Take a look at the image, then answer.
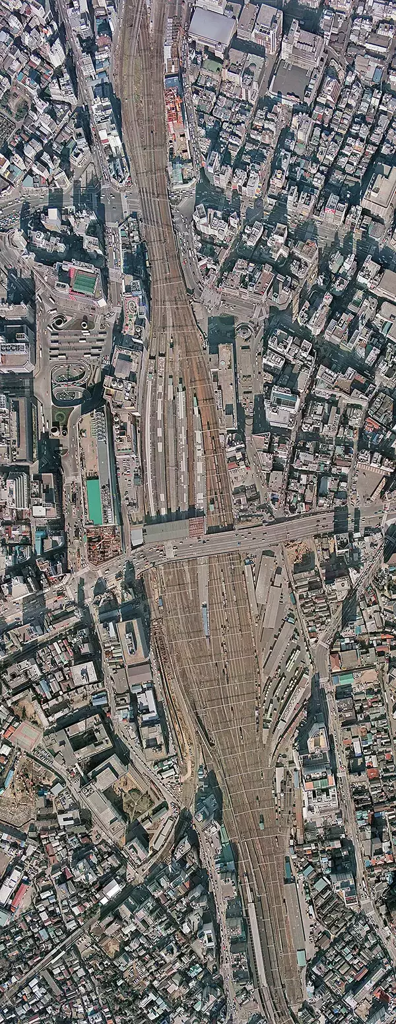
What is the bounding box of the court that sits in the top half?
[73,270,98,294]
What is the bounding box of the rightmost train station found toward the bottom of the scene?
[244,873,274,986]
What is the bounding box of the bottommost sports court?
[10,723,41,751]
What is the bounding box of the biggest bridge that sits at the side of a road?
[113,514,333,577]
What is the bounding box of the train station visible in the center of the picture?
[130,357,206,545]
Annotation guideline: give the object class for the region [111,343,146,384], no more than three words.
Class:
building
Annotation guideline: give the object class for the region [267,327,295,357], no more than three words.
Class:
building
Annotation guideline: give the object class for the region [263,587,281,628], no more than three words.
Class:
shed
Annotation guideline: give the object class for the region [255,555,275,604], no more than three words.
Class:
shed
